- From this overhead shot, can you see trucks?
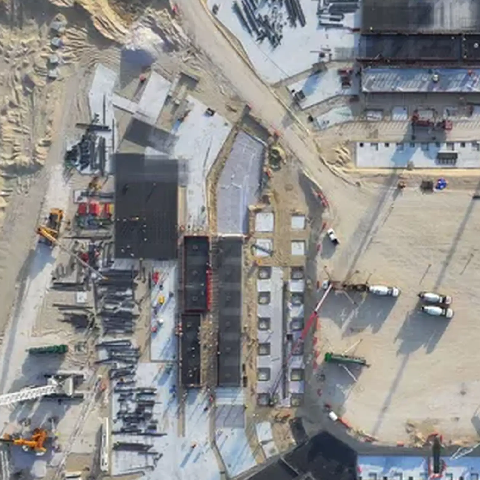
Yes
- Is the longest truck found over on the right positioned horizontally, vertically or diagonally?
diagonally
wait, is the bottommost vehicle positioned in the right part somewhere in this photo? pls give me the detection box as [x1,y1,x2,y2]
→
[325,407,340,427]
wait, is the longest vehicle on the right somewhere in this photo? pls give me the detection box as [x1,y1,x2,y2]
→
[274,258,366,398]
